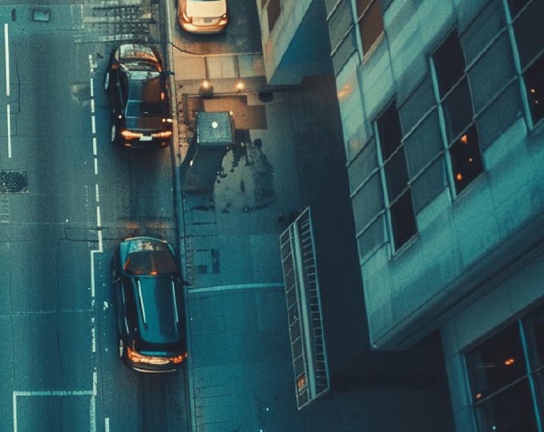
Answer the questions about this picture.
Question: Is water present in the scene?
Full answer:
No, no water is visible.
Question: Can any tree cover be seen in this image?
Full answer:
No, tree cover can't be seen anywhere here.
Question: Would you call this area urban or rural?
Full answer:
From above, the setting appears urban.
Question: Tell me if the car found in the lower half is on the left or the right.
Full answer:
The car found in the lower half is on the left side of the image.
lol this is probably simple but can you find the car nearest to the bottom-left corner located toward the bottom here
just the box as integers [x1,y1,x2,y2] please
[113,237,190,375]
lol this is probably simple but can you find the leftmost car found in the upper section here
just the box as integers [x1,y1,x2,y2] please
[102,41,175,149]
